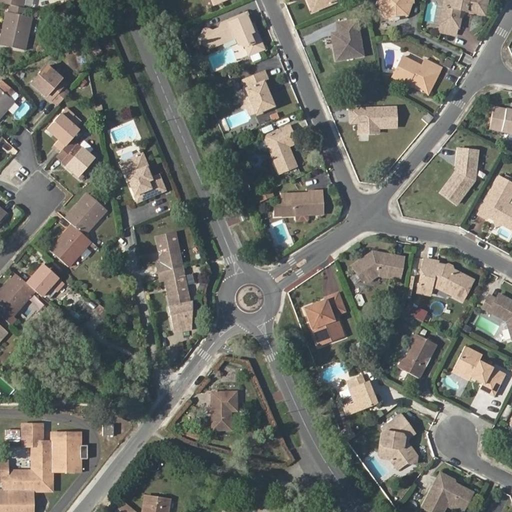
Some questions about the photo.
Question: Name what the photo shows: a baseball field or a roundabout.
roundabout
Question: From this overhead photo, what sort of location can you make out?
residential area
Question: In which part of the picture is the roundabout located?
center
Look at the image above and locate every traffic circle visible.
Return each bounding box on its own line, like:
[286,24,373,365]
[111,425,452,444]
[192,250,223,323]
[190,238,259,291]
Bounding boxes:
[218,268,281,330]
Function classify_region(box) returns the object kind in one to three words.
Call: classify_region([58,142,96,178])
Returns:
house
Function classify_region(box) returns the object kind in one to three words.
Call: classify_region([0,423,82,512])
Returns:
building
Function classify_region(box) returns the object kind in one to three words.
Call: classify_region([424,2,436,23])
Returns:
swimming pool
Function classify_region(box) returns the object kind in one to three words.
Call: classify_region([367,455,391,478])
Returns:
swimming pool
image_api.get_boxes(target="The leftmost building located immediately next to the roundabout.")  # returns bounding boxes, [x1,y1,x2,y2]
[154,231,194,334]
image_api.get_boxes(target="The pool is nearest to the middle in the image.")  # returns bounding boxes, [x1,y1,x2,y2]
[272,224,290,246]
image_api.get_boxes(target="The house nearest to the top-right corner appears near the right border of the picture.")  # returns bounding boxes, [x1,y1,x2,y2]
[439,0,489,37]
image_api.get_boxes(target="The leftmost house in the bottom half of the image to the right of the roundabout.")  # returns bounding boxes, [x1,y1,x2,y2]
[302,292,347,348]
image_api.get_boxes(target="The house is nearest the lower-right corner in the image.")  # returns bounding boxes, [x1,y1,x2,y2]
[420,472,476,512]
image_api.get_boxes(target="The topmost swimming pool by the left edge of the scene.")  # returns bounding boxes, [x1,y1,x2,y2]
[14,101,30,120]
